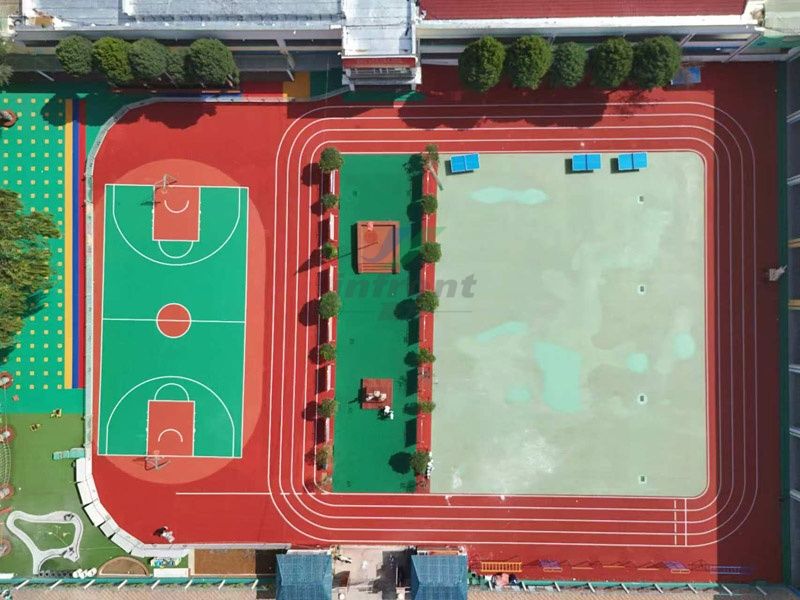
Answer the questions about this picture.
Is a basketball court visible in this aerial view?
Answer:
Yes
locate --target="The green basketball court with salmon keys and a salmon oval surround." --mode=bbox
[91,161,264,485]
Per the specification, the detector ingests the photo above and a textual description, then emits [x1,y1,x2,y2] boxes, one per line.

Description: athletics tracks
[176,104,759,548]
